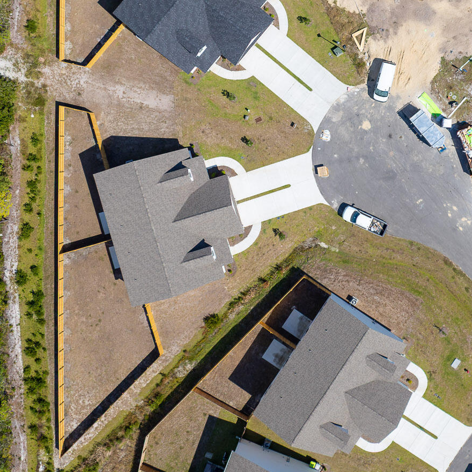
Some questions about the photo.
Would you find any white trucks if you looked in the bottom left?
No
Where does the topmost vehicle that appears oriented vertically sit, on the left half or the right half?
right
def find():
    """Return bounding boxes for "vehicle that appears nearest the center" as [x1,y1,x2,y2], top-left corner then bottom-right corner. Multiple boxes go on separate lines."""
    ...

[341,205,388,237]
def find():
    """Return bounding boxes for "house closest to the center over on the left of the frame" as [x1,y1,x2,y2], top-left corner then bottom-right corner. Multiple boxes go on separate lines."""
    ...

[93,147,246,306]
